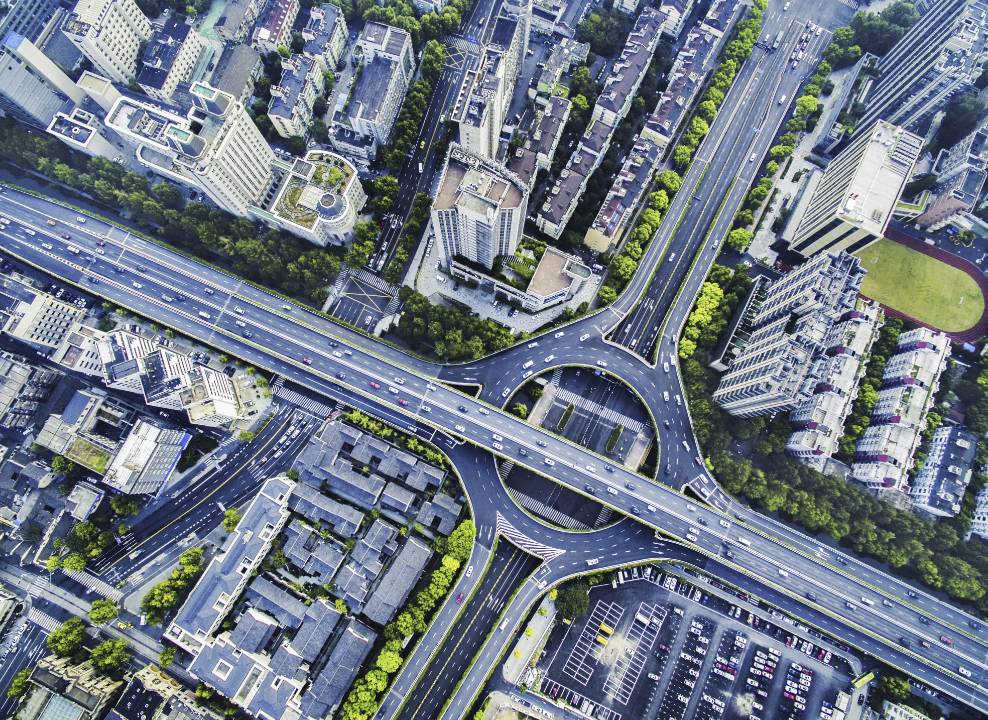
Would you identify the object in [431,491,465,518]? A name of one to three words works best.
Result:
house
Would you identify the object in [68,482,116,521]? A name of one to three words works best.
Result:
building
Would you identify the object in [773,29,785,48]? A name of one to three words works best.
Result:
vehicle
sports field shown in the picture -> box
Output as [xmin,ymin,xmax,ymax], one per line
[855,228,988,346]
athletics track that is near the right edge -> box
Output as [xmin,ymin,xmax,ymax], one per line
[855,228,988,346]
